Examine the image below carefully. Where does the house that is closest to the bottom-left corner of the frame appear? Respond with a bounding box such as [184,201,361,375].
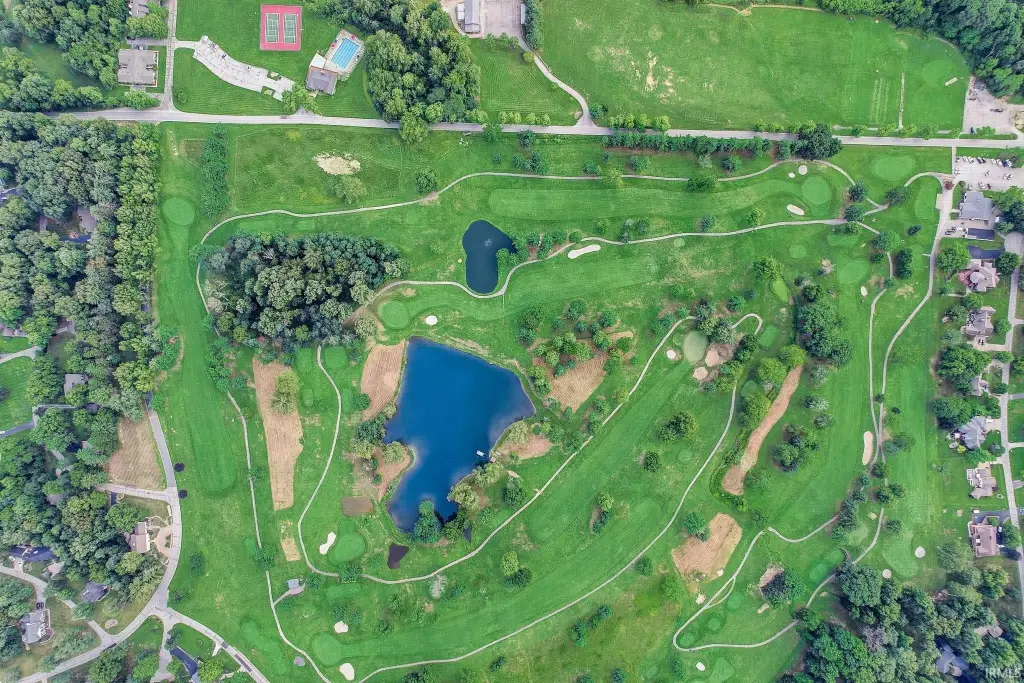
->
[19,608,57,642]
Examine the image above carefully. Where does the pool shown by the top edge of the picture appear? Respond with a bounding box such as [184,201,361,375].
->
[323,28,366,80]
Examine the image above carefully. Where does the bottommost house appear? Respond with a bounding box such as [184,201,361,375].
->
[935,642,969,676]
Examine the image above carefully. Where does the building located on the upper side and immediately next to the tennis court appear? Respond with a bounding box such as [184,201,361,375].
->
[304,52,338,96]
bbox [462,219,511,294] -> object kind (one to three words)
pond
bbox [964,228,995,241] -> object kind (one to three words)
shed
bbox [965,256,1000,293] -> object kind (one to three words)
house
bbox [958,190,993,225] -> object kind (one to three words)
building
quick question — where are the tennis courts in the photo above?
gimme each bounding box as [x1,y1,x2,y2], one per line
[258,2,303,51]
